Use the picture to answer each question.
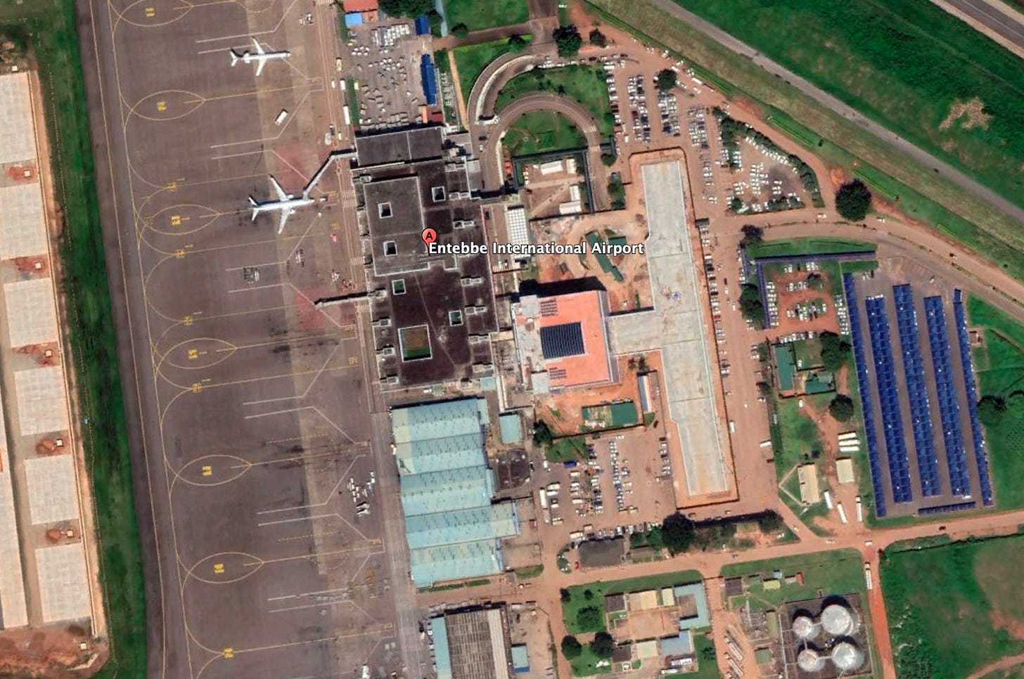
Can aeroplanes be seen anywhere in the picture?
Yes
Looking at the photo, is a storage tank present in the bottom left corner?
No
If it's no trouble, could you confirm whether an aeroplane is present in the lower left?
No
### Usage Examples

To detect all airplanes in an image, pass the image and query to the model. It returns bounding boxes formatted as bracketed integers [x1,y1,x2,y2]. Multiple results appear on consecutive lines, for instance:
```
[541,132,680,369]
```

[226,39,291,76]
[248,177,314,234]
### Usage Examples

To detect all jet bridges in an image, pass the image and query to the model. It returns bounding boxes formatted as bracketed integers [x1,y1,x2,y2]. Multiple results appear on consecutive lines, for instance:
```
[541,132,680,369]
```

[302,151,358,200]
[314,296,369,309]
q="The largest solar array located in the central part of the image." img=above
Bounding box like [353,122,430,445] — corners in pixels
[540,321,584,359]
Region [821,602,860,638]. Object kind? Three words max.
storage tank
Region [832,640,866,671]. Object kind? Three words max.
storage tank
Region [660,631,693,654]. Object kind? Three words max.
building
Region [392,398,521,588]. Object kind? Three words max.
hangar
